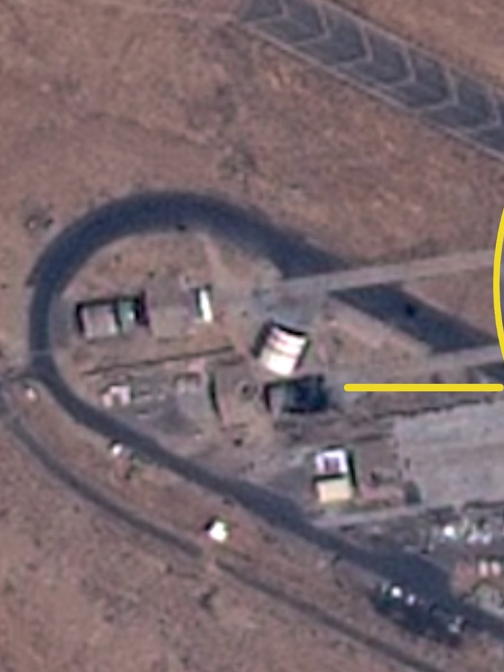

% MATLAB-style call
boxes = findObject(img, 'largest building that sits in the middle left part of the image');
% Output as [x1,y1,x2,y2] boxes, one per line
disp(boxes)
[83,302,118,338]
